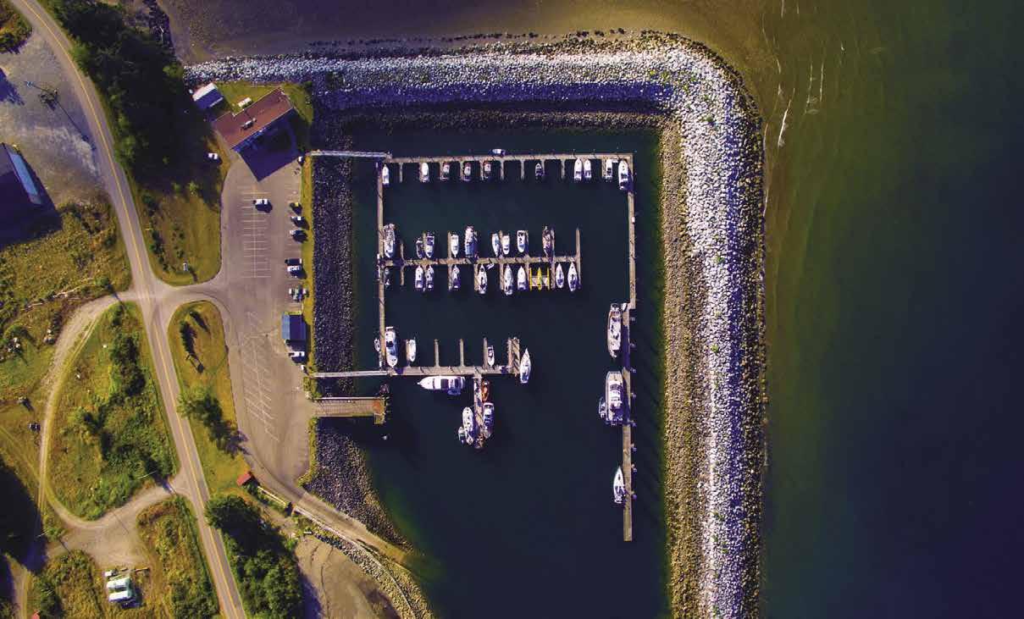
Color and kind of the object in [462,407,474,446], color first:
white boat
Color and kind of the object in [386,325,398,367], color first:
white boat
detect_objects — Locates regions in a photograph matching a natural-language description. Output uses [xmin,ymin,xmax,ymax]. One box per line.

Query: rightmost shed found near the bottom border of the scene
[105,572,139,603]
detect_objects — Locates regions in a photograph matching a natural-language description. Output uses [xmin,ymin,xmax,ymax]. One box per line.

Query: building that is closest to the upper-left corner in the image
[0,142,48,229]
